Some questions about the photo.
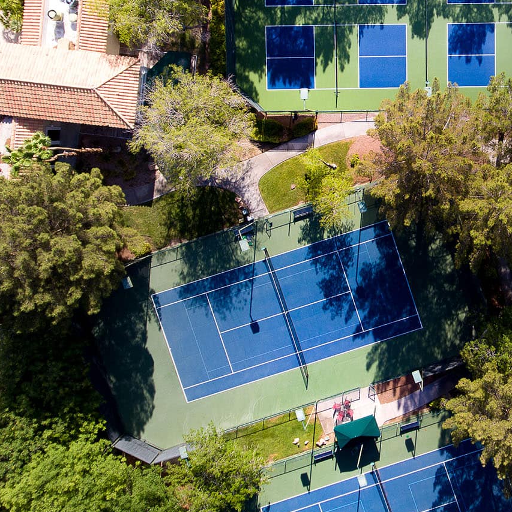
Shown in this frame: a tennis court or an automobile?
tennis court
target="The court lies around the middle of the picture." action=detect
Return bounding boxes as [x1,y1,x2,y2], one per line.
[82,168,488,451]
